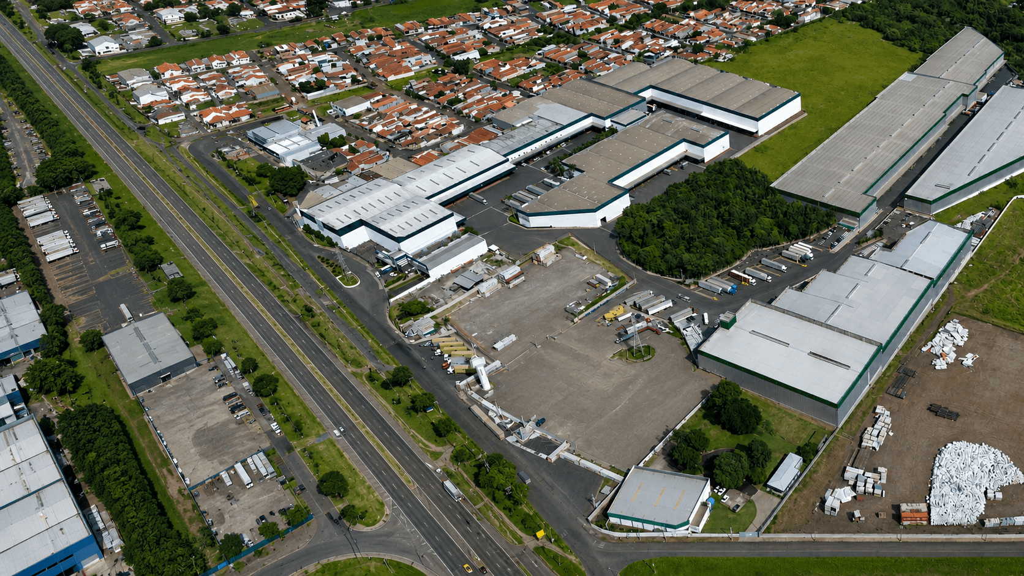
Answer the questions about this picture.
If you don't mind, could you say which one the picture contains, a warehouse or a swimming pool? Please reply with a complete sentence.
The image shows a warehouse.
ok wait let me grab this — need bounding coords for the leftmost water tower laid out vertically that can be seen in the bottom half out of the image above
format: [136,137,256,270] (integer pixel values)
[473,353,492,393]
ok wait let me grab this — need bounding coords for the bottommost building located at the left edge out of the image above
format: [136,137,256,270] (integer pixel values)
[0,412,103,576]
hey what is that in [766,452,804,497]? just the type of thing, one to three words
house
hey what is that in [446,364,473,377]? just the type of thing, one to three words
vehicle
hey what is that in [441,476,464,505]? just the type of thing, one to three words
truck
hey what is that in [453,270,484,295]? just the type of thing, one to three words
shed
